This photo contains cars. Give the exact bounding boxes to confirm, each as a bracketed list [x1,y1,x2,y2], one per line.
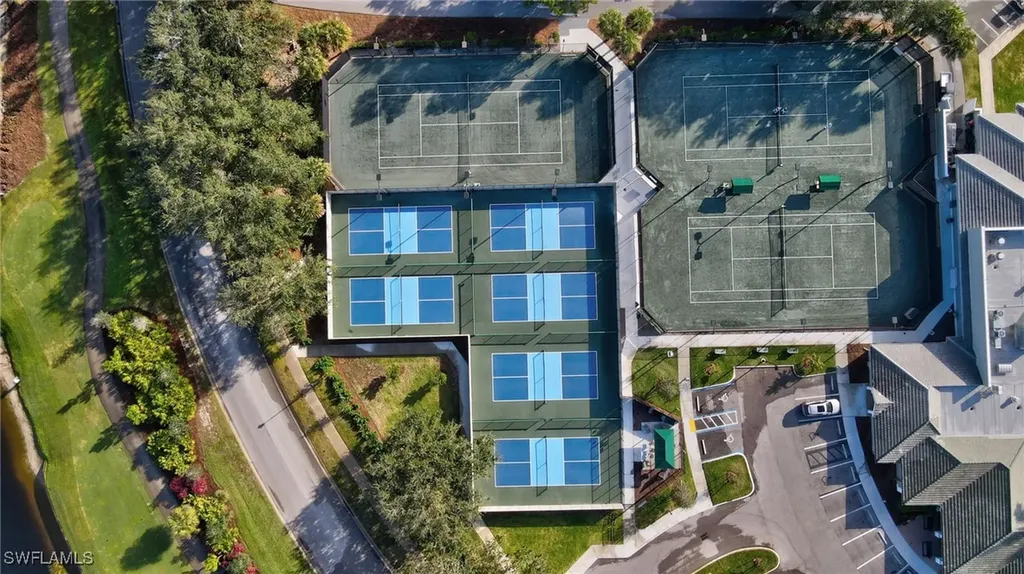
[803,400,841,418]
[1008,0,1024,17]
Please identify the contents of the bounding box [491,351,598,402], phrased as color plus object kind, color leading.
blue sports court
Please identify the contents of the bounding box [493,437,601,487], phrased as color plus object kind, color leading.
blue sports court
